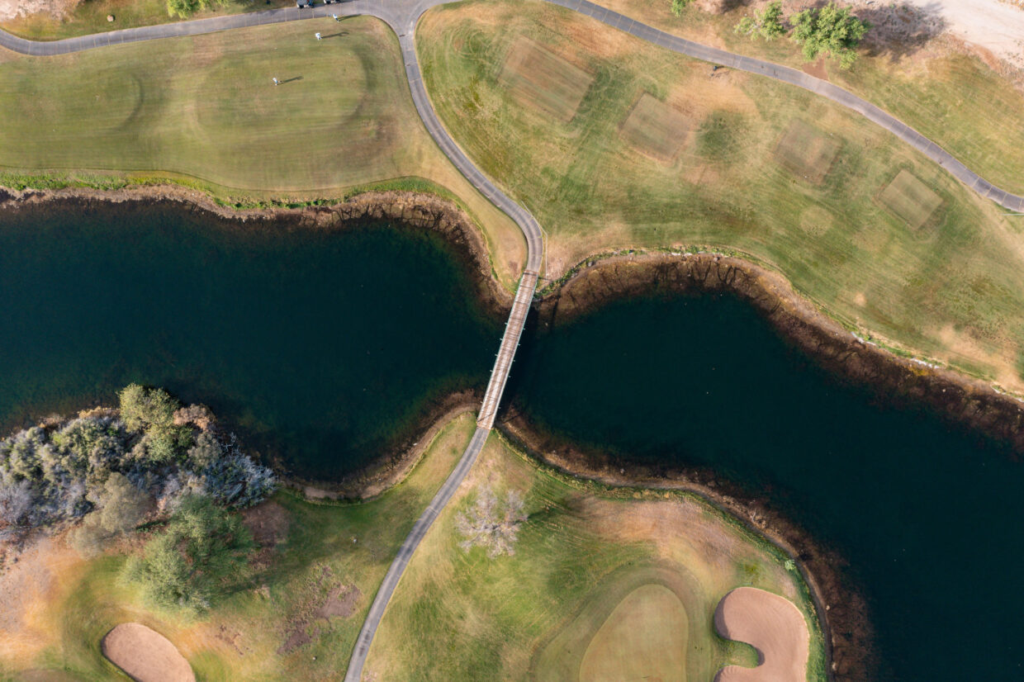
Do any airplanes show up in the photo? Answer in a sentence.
No, the picture doesn't show any airplane.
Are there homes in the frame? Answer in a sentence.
No, no home can be seen from above.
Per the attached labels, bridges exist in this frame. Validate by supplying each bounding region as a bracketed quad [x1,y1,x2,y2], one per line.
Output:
[476,269,540,432]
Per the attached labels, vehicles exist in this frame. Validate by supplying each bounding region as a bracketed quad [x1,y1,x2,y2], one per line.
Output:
[324,0,339,5]
[295,0,311,10]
